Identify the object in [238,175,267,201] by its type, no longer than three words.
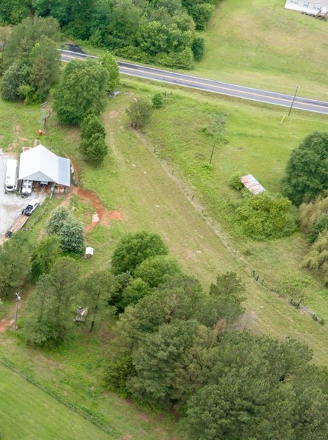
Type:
shed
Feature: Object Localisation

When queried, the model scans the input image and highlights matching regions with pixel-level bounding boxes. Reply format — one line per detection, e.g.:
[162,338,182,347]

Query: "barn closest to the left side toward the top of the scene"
[18,142,73,197]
